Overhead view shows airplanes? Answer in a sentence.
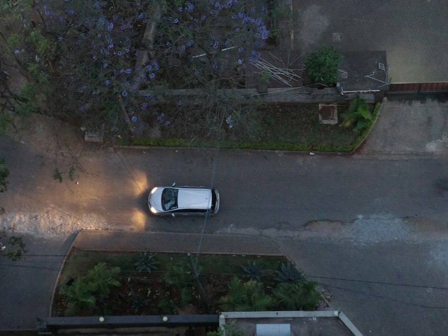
No, no airplane is visible in the view.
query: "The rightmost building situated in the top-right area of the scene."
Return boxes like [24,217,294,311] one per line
[338,50,387,101]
